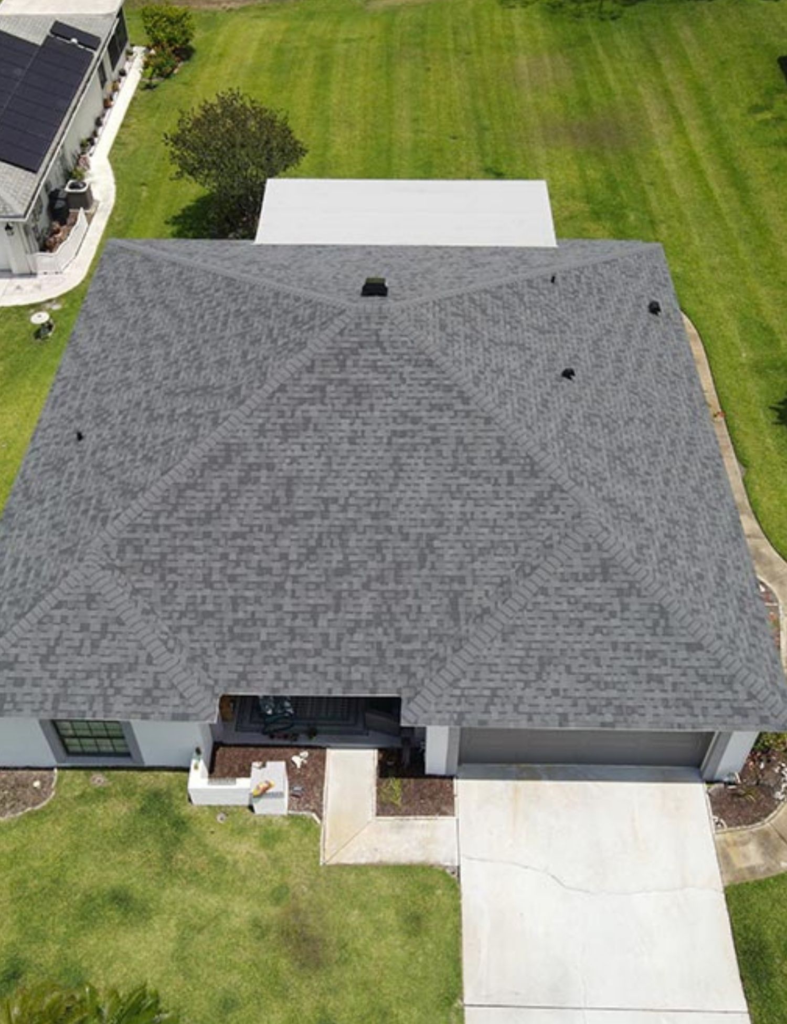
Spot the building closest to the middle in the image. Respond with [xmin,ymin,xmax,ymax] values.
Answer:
[0,176,787,781]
